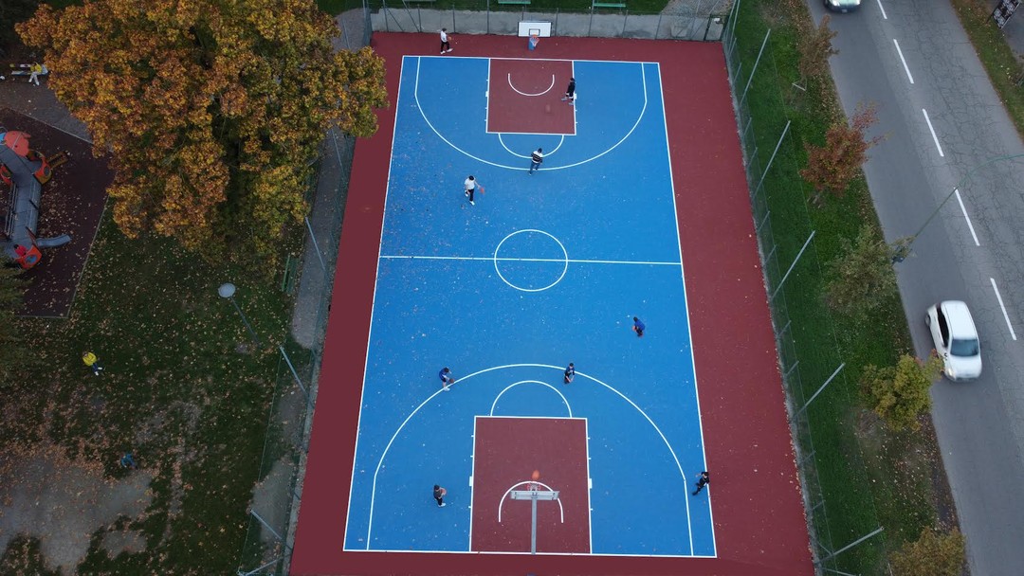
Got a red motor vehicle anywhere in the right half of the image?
No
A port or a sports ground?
sports ground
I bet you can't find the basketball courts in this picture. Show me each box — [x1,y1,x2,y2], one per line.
[287,31,822,576]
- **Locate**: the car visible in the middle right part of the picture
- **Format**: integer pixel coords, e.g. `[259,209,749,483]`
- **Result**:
[923,297,988,377]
